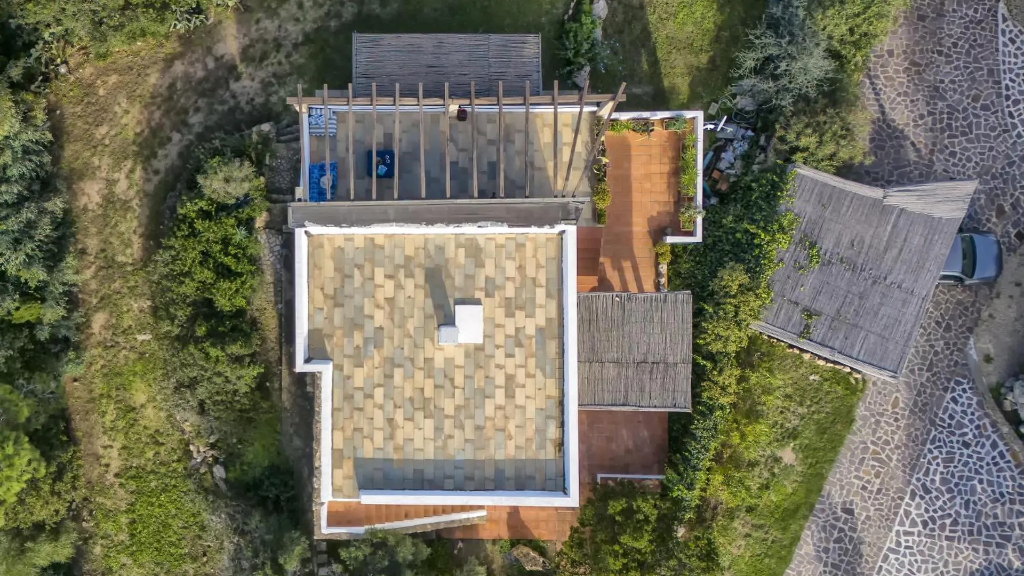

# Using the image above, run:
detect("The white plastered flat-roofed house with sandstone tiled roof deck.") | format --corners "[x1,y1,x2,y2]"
[288,197,591,505]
